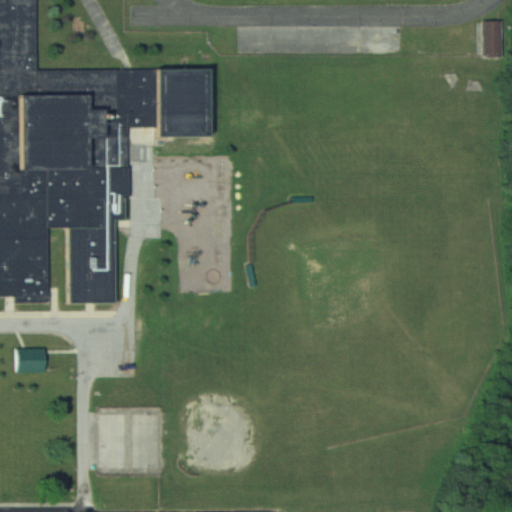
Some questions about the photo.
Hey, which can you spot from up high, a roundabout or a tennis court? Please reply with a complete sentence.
Looking from above, you can make out a tennis court.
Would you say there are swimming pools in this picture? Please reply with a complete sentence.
No, I can see no swimming pool in this picture.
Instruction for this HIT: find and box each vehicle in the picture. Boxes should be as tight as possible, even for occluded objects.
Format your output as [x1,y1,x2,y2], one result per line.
[118,364,134,370]
[120,274,129,303]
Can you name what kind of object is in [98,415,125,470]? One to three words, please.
tennis court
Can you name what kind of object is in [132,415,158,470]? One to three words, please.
tennis court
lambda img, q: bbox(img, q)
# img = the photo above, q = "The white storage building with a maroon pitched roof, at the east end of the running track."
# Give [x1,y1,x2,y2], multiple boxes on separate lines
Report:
[480,20,504,58]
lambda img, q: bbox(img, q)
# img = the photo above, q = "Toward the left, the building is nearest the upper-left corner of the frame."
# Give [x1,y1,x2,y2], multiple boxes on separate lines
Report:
[0,0,212,304]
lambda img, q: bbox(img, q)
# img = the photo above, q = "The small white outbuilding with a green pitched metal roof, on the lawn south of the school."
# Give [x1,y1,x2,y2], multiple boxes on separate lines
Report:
[14,348,49,372]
